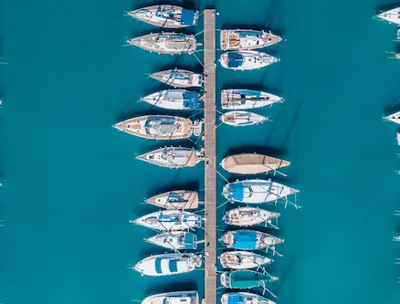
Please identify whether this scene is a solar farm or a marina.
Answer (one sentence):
The picture captures a marina.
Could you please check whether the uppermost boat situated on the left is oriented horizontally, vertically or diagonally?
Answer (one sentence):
From this overhead view, the uppermost boat situated on the left appears to run horizontally.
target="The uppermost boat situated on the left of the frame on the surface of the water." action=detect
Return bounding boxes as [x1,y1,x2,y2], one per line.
[118,3,202,30]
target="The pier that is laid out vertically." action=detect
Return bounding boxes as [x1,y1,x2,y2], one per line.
[203,9,216,304]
